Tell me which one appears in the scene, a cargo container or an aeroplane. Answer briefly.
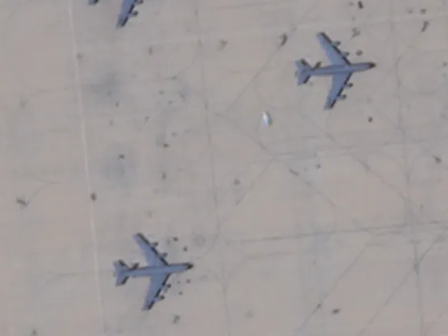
aeroplane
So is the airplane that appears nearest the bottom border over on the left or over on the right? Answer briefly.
left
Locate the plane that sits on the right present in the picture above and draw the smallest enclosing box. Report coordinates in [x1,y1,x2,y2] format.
[297,33,373,109]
